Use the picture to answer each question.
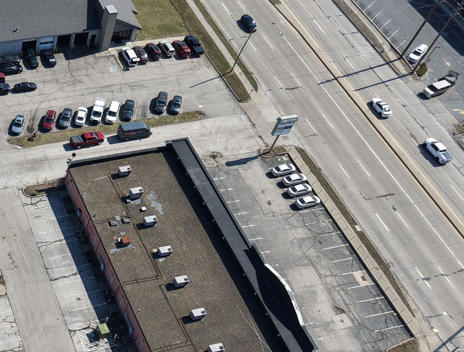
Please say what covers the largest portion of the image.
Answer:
paved ground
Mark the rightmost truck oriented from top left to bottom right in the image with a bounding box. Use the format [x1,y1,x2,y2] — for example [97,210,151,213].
[422,139,456,164]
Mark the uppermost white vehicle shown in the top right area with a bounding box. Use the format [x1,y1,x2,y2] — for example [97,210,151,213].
[408,43,429,61]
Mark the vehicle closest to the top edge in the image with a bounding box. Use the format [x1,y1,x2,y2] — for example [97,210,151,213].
[239,15,257,31]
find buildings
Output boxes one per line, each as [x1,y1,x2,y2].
[0,0,146,55]
[65,134,319,352]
